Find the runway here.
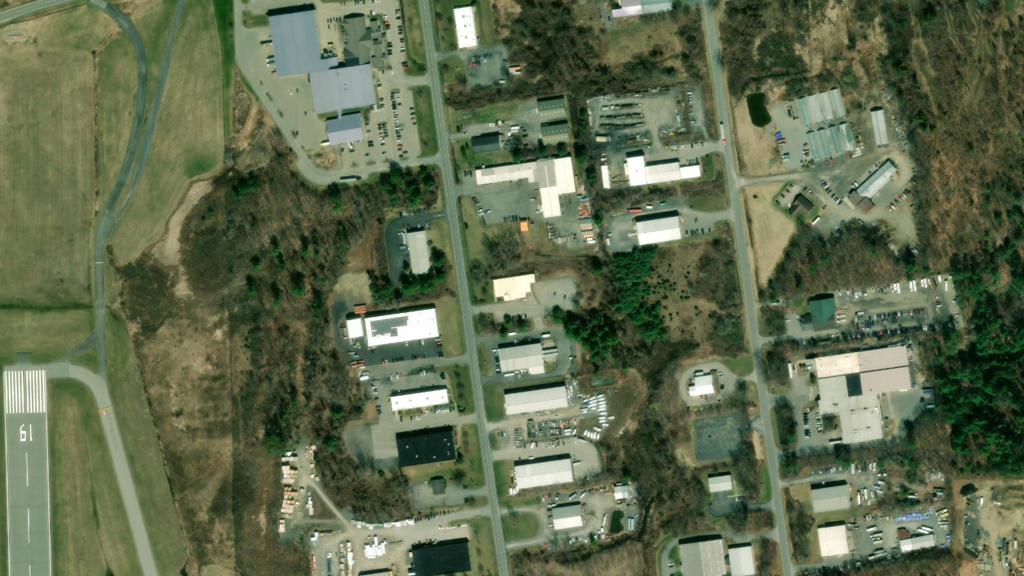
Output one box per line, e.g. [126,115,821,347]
[3,370,51,576]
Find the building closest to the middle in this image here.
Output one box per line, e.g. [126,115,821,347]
[493,274,536,301]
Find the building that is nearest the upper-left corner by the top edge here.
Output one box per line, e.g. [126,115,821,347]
[268,8,338,75]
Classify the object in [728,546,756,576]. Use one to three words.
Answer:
building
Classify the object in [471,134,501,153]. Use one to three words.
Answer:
house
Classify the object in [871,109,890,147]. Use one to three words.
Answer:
barn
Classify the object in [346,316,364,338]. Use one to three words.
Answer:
shed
